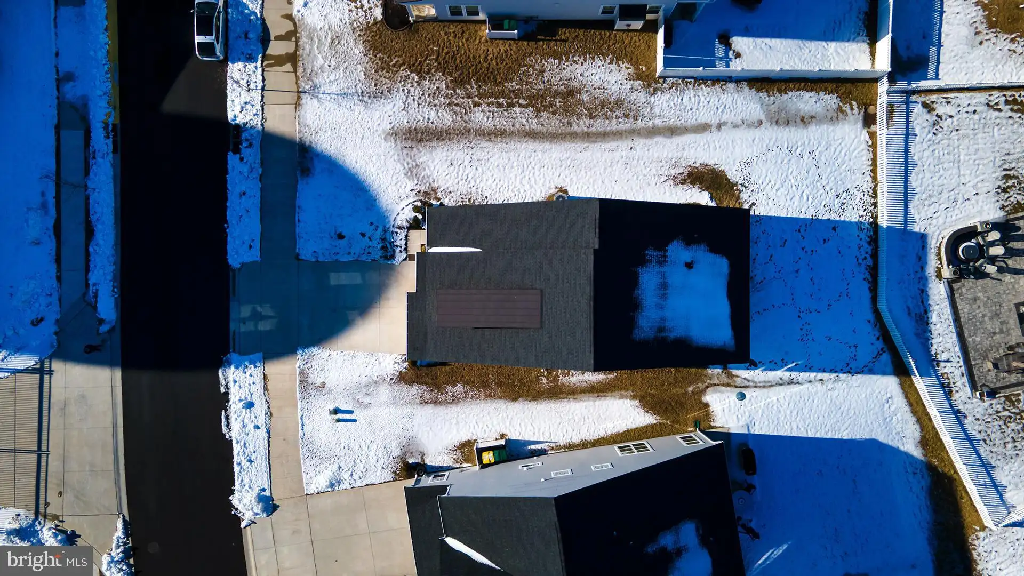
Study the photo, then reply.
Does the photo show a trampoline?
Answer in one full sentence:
No, no trampoline is visible in the view.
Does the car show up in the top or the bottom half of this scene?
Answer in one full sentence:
The top half of the photo is where the car is.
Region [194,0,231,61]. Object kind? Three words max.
car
